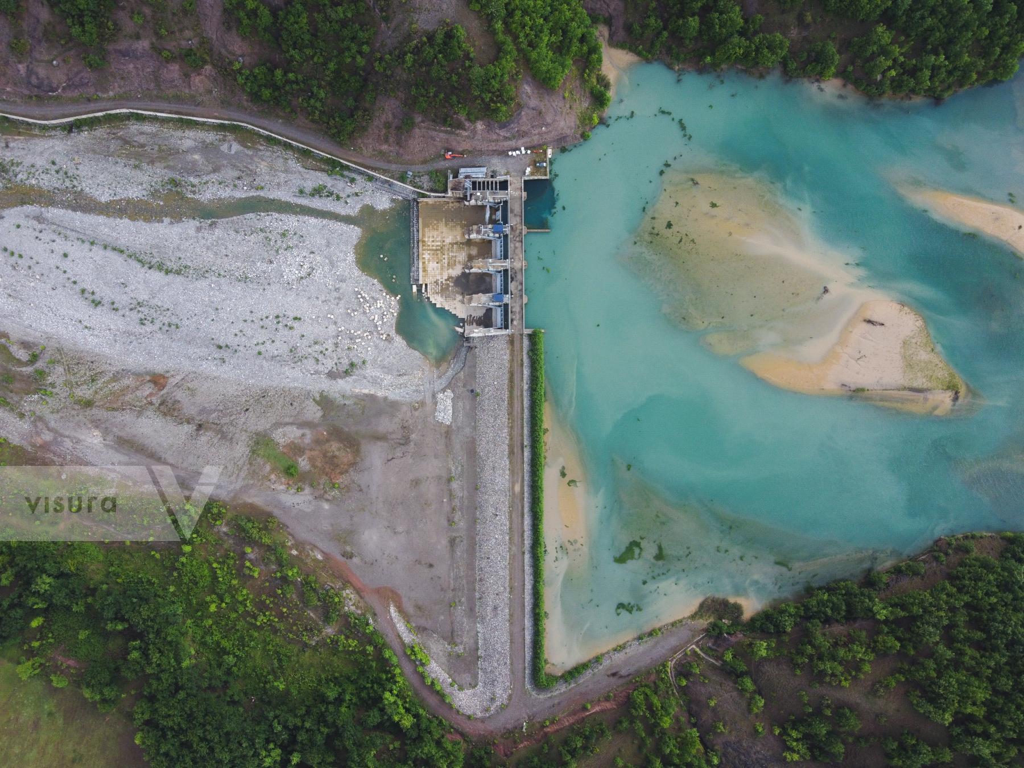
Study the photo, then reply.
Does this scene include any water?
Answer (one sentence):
Yes, there is water in the image.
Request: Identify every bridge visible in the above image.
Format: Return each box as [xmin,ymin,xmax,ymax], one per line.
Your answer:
[508,176,524,334]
